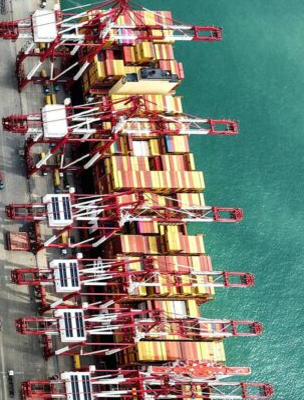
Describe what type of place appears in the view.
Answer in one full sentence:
This looks like a port.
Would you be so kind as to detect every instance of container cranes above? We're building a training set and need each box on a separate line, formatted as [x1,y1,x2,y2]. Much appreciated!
[13,301,267,369]
[19,358,279,400]
[8,252,258,323]
[0,0,226,95]
[2,188,245,265]
[0,97,244,184]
